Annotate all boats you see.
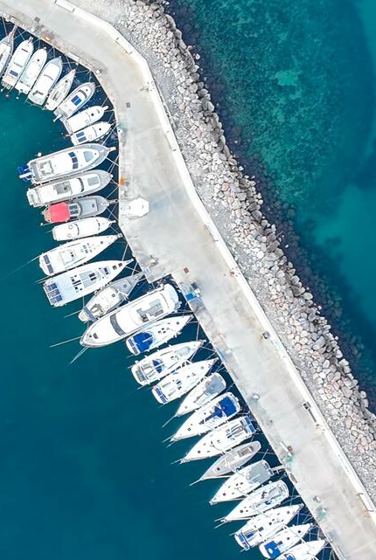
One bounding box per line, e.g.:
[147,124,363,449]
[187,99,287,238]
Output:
[126,333,212,382]
[12,39,49,100]
[207,470,295,532]
[50,211,123,245]
[68,267,150,327]
[44,279,184,365]
[256,516,330,560]
[60,100,114,137]
[43,65,77,112]
[35,226,127,273]
[272,532,335,560]
[161,387,249,445]
[193,433,272,486]
[47,83,105,127]
[16,134,118,185]
[119,312,199,355]
[41,251,143,305]
[149,347,223,402]
[0,26,42,92]
[24,47,72,112]
[167,371,237,422]
[209,450,279,512]
[231,494,320,552]
[66,109,117,148]
[0,20,26,80]
[177,410,256,465]
[21,160,119,209]
[37,191,119,226]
